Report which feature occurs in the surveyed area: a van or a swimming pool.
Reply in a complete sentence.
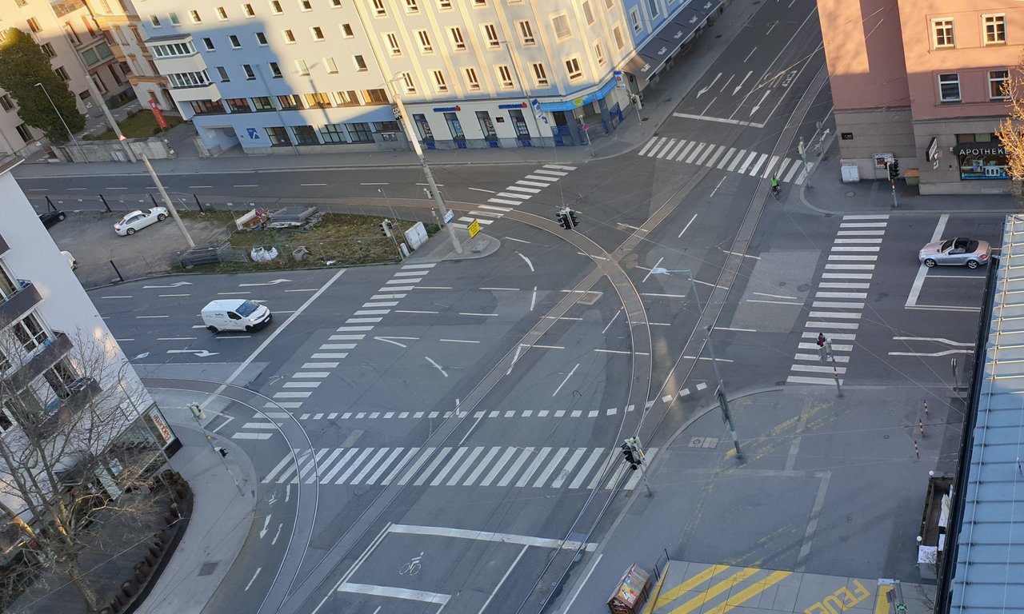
There is a van in the scene.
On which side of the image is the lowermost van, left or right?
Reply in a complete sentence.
The lowermost van sits on the left side.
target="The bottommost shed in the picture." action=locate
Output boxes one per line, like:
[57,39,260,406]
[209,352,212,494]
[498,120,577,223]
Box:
[605,562,656,614]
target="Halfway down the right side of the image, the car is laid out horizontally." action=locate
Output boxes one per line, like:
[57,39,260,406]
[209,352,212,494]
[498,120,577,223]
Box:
[917,235,990,268]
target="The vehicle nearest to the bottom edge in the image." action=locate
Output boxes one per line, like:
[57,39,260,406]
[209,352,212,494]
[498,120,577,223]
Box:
[195,296,273,333]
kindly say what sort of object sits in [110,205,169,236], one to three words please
car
